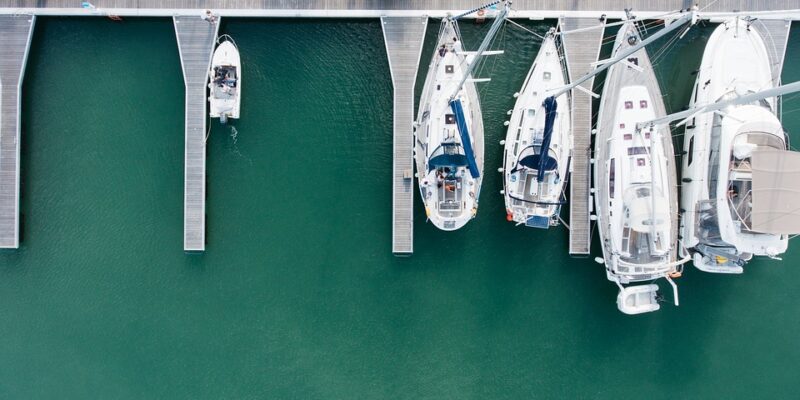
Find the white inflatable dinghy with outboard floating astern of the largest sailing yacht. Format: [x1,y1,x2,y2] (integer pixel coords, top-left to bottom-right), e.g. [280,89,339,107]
[617,284,664,314]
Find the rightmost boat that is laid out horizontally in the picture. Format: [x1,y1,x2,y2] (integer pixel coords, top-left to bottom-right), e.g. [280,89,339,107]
[690,248,748,273]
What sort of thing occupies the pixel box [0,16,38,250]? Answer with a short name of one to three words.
pier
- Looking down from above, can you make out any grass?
No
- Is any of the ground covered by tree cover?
No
